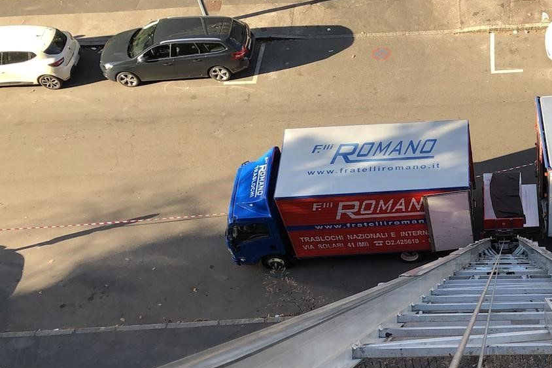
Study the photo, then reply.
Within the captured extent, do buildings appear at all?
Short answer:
No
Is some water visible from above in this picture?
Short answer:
No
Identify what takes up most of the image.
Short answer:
paved ground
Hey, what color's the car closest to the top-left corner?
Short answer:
white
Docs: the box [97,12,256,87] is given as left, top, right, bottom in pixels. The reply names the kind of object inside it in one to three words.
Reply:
car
